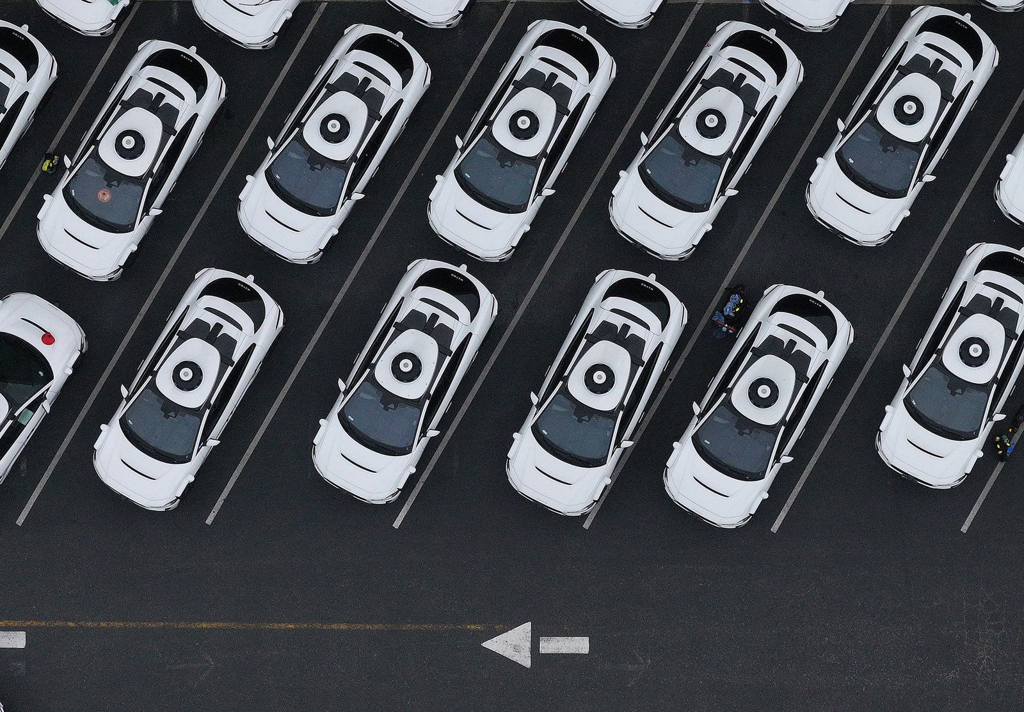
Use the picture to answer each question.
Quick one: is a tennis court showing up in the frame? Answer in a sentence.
No, the picture doesn't show any tennis court.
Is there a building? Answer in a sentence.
No, this view has no building in it.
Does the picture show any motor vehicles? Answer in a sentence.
Yes, this view includes a motor vehicle.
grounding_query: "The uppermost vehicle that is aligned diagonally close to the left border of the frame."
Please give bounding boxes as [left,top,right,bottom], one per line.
[36,38,228,282]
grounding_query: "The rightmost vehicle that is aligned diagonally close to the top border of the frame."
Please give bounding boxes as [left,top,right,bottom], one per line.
[805,5,999,247]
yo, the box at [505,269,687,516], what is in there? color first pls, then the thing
white car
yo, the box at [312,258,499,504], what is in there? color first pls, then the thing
white car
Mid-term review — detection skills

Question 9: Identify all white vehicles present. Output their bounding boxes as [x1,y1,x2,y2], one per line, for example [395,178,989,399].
[575,0,666,29]
[312,258,499,504]
[0,292,86,484]
[996,136,1024,229]
[92,267,285,511]
[192,0,302,49]
[505,269,687,516]
[427,18,617,262]
[758,0,856,32]
[663,283,854,528]
[237,23,433,265]
[876,242,1024,489]
[36,38,228,282]
[382,0,472,28]
[608,19,804,260]
[805,5,999,247]
[34,0,135,36]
